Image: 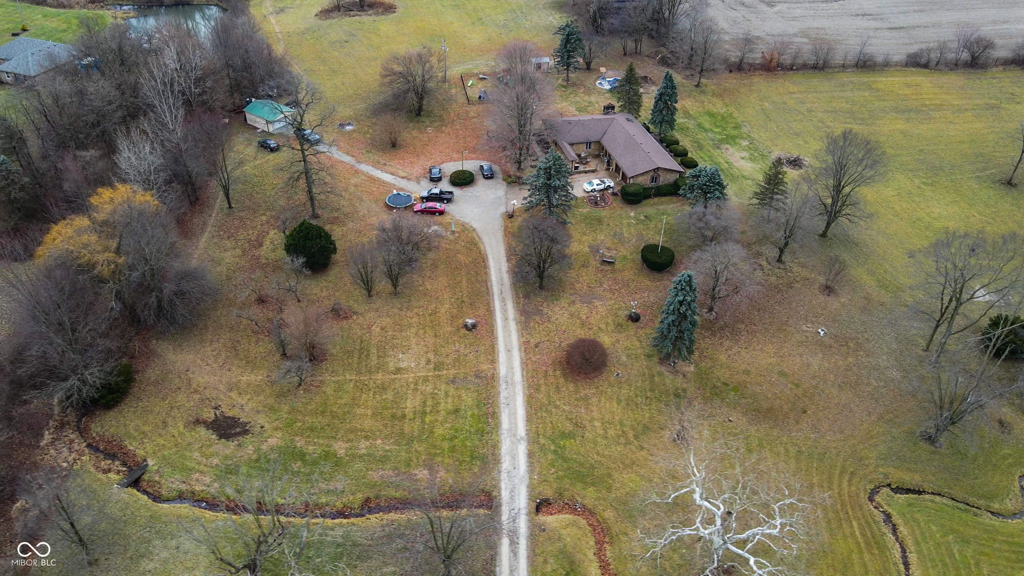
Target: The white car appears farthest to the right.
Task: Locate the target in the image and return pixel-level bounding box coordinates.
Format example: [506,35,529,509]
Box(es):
[584,178,612,191]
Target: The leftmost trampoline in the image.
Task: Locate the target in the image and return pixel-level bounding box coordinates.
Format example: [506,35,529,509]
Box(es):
[386,193,414,211]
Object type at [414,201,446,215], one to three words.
car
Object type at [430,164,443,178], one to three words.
vehicle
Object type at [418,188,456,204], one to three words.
vehicle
